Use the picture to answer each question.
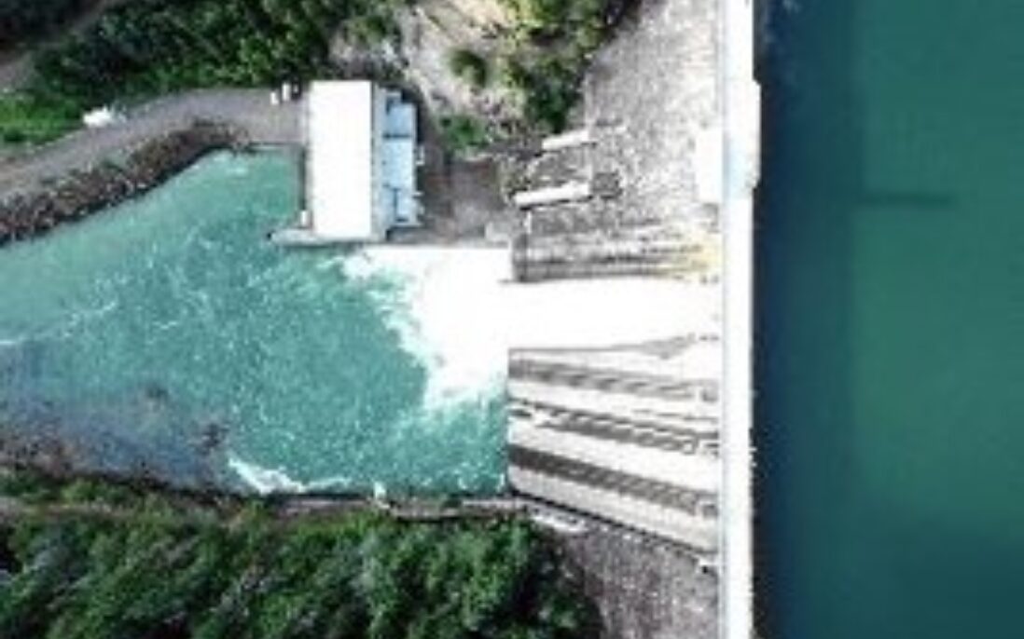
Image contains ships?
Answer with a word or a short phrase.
No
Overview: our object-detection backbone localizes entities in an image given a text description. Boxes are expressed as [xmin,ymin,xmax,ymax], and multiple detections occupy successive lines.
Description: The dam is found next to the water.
[499,0,763,639]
